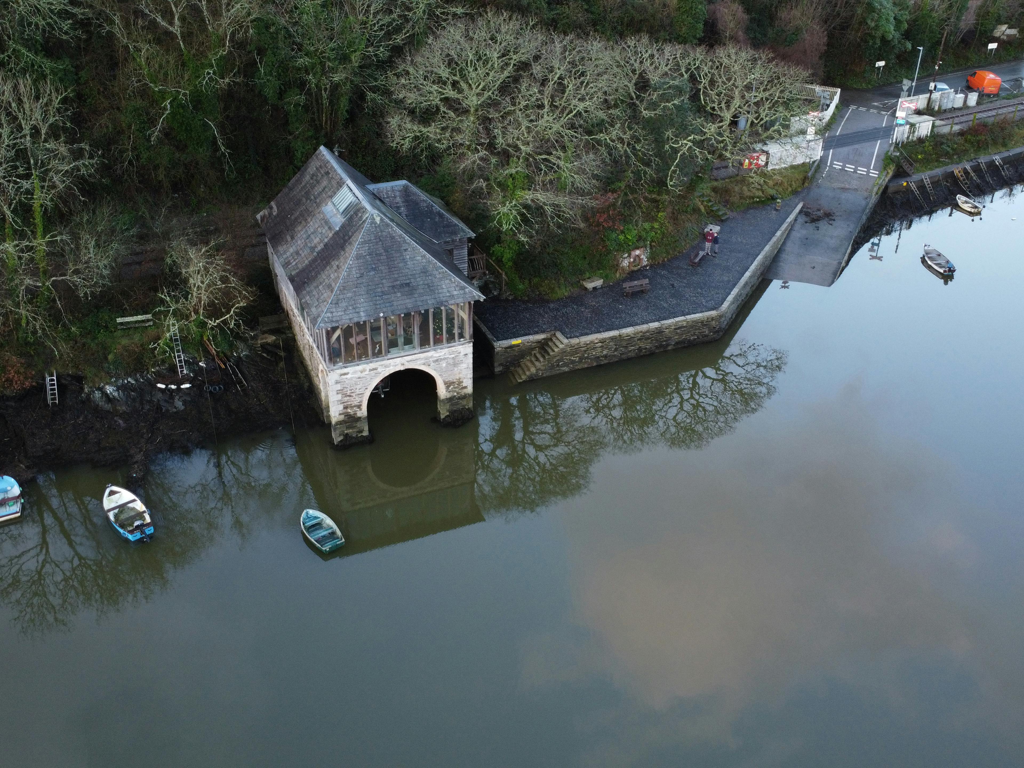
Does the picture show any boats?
Yes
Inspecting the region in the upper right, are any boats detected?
Yes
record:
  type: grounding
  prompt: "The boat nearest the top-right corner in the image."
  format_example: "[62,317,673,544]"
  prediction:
[957,194,987,214]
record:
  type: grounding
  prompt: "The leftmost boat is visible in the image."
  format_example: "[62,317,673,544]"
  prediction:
[0,473,26,523]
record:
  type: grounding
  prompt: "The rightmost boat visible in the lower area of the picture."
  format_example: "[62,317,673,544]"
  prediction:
[299,509,348,559]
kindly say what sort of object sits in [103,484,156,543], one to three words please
boat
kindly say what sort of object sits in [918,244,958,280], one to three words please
boat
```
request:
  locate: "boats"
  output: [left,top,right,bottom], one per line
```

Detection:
[103,484,156,543]
[918,244,958,280]
[0,473,26,523]
[957,194,987,214]
[299,509,348,559]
